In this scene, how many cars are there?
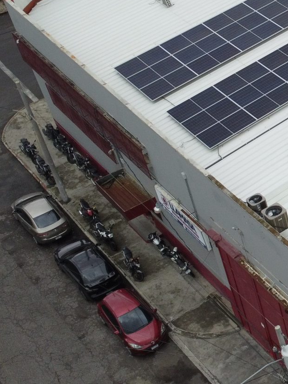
3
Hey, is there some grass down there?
No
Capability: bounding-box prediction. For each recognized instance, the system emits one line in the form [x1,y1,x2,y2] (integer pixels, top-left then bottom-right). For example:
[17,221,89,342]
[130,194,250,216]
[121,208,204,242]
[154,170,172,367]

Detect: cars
[3,188,78,250]
[52,236,132,305]
[94,286,177,363]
